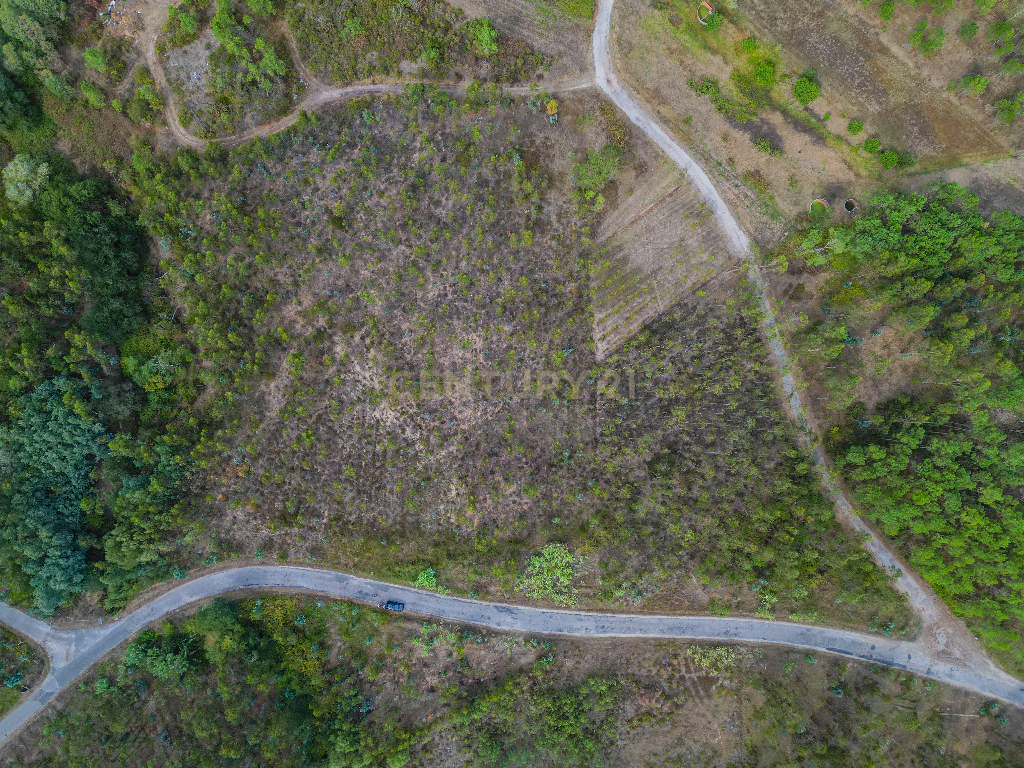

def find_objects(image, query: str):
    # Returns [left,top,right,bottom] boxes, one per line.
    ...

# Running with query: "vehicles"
[382,599,406,612]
